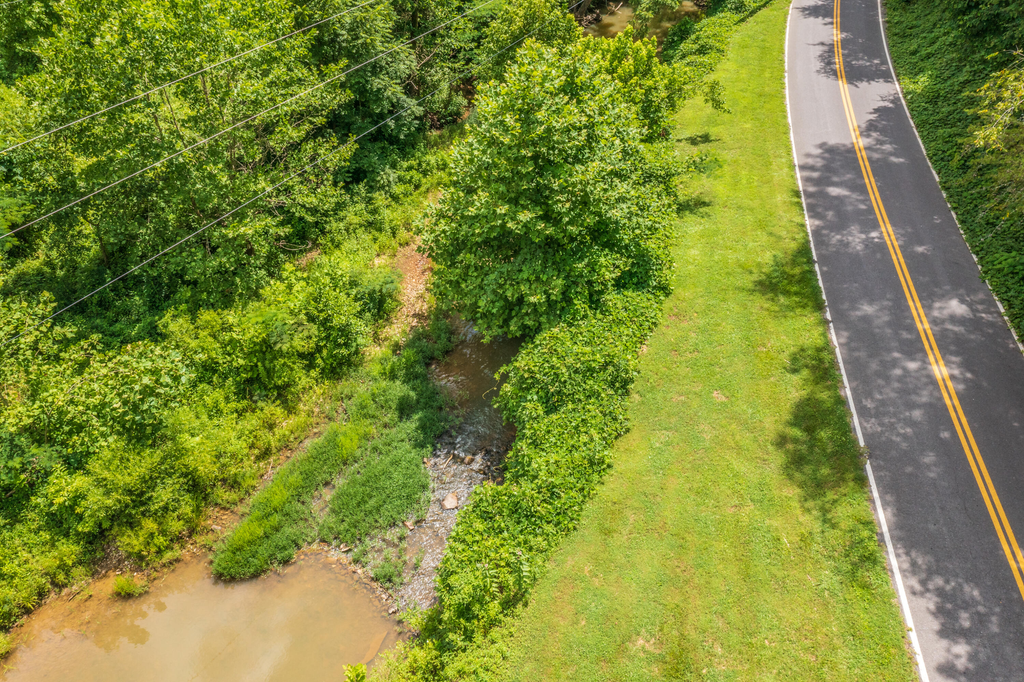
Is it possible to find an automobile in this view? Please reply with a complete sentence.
No, I find no automobile anywhere in the image.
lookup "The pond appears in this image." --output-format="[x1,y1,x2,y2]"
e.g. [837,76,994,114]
[0,569,395,682]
